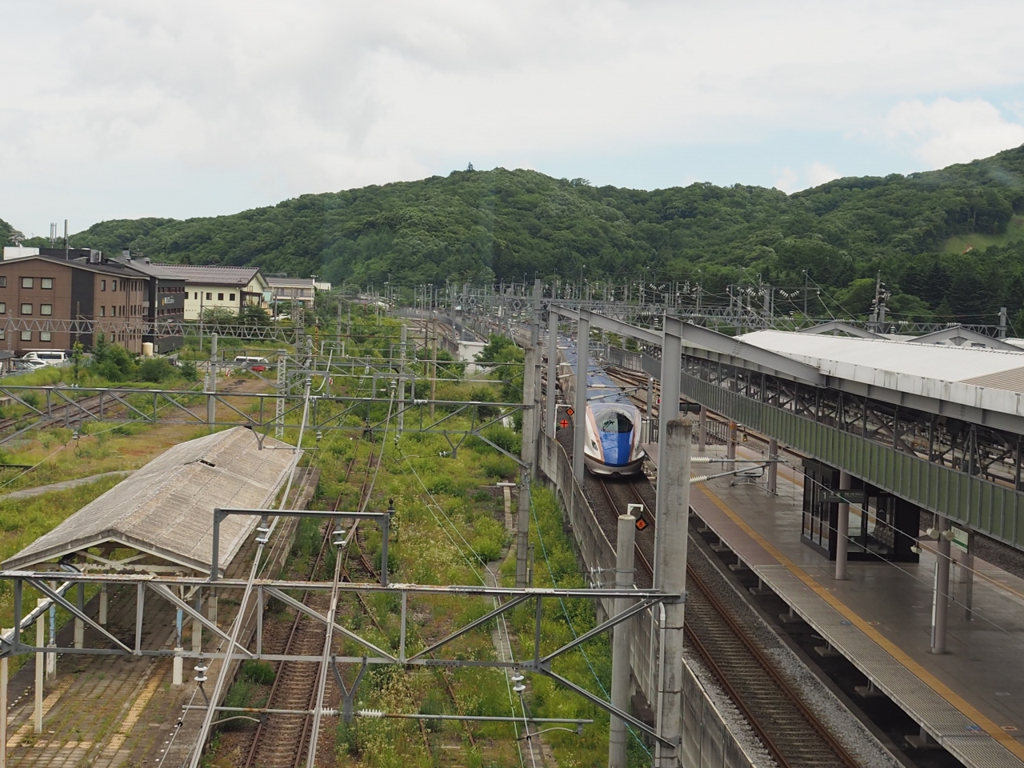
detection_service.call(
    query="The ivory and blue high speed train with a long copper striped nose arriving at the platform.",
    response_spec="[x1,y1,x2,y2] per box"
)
[534,332,642,482]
